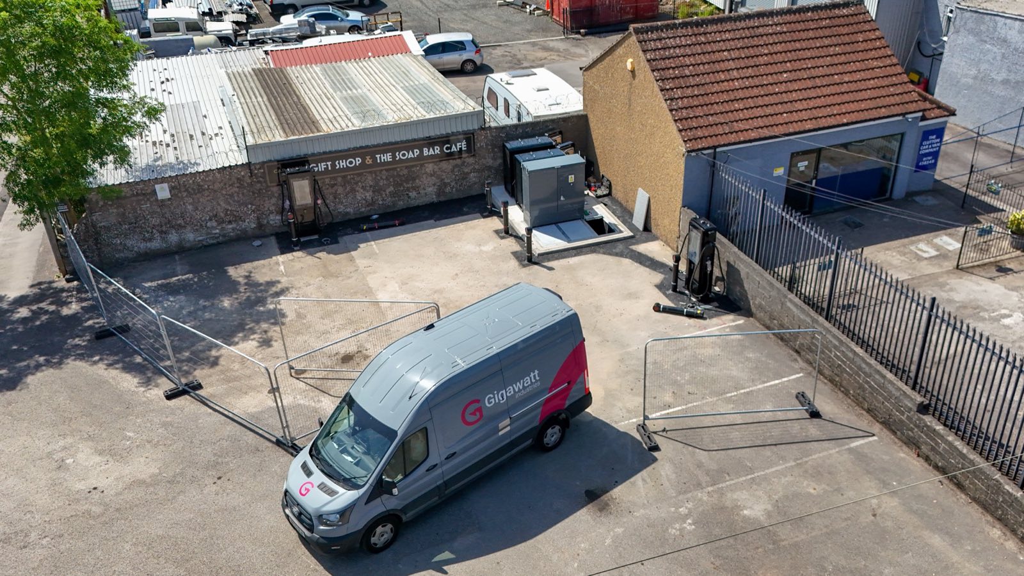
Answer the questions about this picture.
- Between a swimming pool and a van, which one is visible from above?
van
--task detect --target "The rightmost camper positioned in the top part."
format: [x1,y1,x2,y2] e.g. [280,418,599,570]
[484,68,580,119]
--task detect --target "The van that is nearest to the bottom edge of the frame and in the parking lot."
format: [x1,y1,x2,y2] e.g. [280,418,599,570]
[282,275,593,554]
